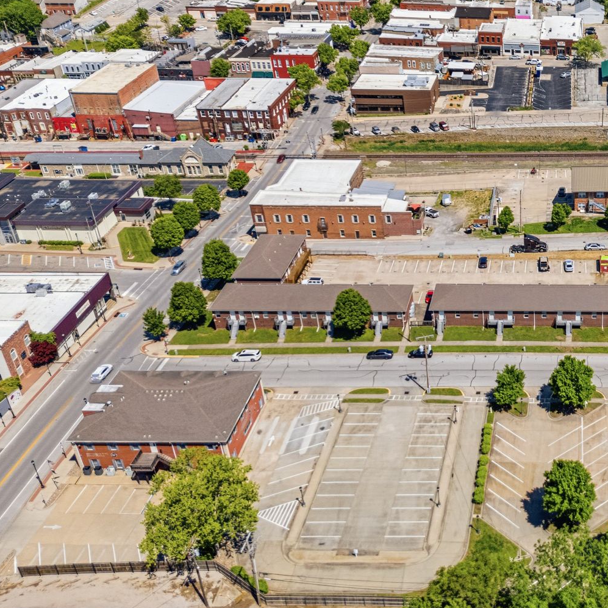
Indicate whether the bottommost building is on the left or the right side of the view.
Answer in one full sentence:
The bottommost building is on the left side of the image.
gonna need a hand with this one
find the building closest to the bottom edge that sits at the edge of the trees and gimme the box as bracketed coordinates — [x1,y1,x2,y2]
[69,371,264,481]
